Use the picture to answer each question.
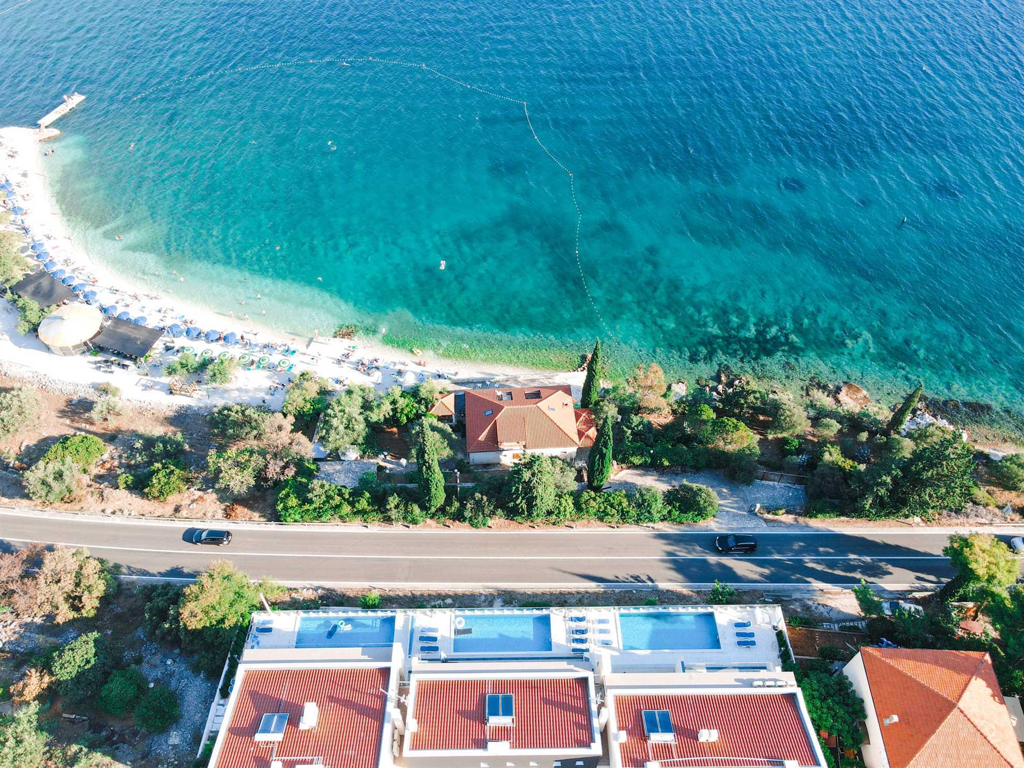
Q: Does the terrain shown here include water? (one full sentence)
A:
Yes, the picture does contain water.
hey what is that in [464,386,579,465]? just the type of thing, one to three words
house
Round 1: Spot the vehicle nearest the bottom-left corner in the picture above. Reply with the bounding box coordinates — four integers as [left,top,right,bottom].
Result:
[187,527,232,548]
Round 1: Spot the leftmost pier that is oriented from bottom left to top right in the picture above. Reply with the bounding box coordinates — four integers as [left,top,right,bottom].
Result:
[35,92,90,127]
